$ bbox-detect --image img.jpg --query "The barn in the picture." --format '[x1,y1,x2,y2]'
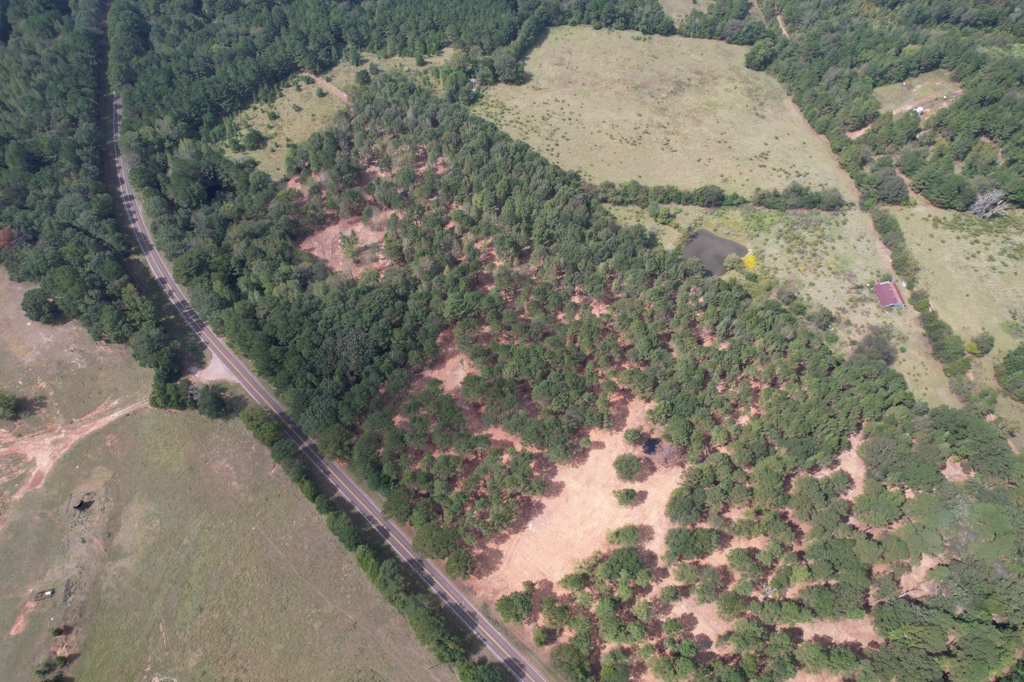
[870,284,910,309]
